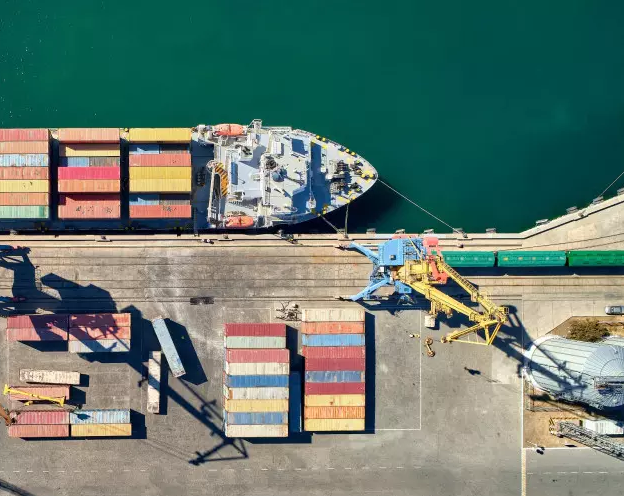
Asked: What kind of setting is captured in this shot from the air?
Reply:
port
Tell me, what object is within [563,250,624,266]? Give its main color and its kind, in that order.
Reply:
green rail car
